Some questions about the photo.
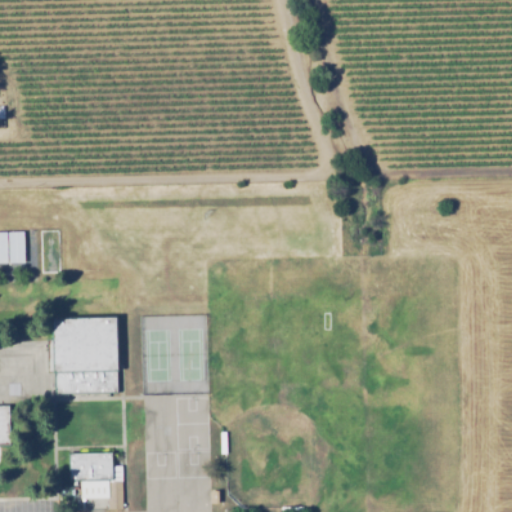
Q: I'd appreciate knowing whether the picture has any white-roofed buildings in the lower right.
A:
No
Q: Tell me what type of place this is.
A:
sports ground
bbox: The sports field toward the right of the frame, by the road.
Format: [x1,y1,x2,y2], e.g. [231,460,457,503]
[214,260,457,512]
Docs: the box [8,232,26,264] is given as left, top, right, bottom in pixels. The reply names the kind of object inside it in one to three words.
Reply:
building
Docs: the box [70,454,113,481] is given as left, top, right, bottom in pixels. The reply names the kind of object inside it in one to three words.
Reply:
building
